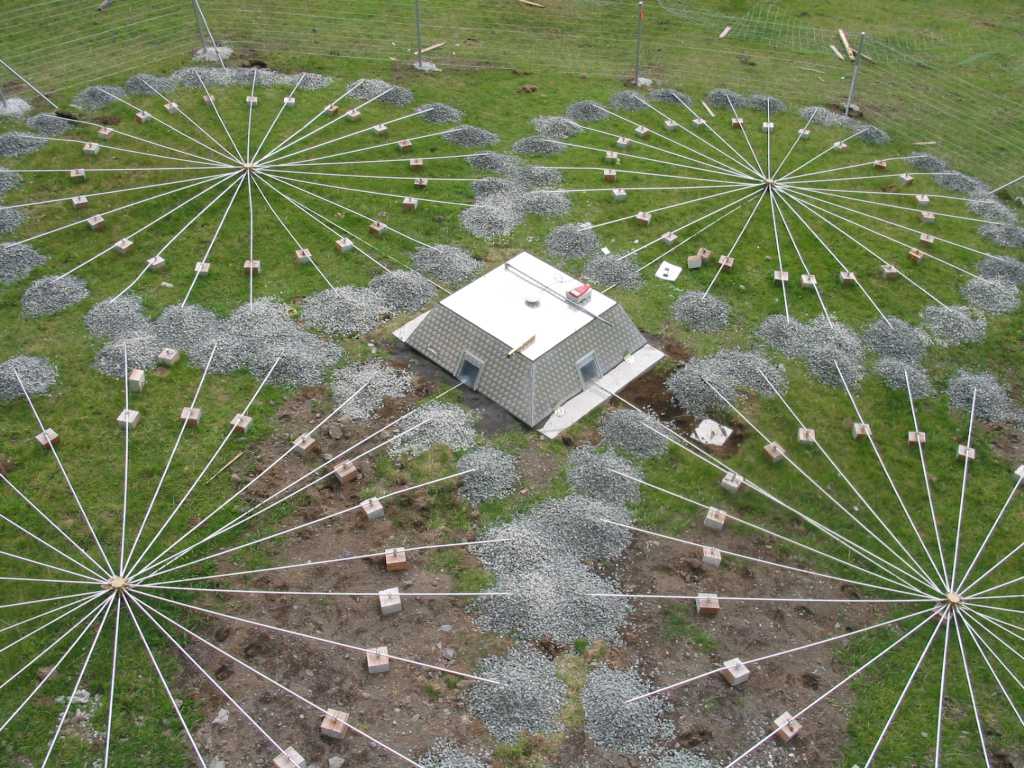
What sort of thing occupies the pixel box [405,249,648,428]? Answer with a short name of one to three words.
shed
